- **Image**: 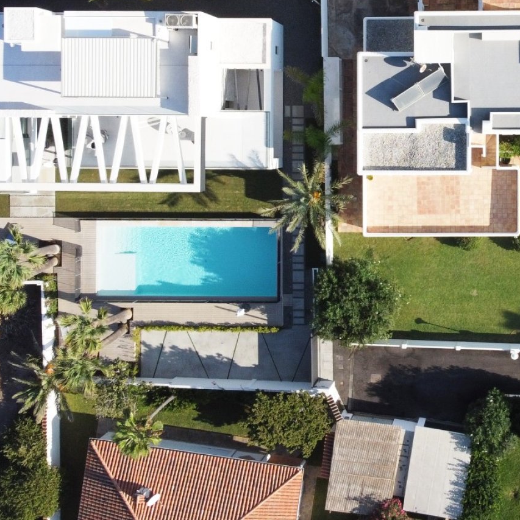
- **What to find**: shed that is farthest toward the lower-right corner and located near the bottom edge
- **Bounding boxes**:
[401,423,470,520]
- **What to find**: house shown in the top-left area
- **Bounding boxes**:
[0,7,282,192]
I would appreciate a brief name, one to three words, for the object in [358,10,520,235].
house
